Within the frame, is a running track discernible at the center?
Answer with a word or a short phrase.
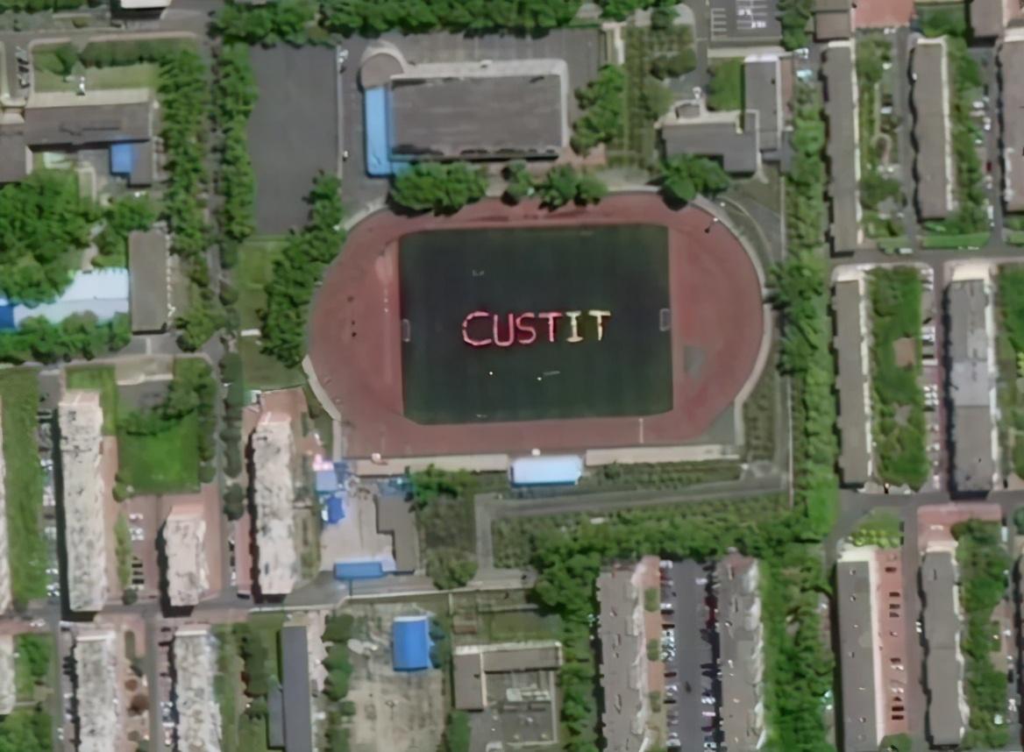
Yes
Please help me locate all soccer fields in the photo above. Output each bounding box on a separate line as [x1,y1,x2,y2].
[401,225,672,424]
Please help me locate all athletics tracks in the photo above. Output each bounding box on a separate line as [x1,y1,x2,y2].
[304,189,763,458]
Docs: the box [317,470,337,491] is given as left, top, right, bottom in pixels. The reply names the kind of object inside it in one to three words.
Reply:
shed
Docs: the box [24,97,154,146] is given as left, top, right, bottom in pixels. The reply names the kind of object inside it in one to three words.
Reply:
building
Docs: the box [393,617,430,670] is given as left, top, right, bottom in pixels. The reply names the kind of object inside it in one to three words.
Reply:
building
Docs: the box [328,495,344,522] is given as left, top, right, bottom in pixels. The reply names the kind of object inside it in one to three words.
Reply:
shed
